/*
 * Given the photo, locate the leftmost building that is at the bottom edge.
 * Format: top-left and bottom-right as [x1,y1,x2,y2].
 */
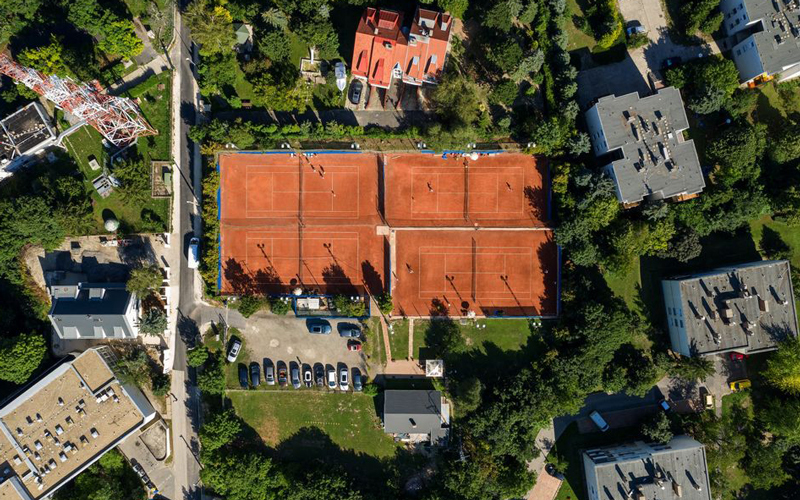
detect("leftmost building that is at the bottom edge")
[0,344,159,500]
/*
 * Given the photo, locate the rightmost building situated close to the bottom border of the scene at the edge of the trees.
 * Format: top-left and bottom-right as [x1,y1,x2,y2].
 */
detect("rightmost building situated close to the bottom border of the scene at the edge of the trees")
[582,431,712,500]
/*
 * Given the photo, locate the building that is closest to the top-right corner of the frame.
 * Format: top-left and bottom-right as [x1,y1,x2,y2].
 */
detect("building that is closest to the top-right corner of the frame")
[717,0,800,88]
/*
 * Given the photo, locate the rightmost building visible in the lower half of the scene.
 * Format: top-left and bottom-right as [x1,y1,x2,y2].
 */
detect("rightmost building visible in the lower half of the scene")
[662,259,800,357]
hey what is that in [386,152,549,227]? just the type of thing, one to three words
tennis court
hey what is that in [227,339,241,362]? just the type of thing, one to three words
car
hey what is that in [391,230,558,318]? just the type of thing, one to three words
tennis court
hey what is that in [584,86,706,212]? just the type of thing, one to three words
building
